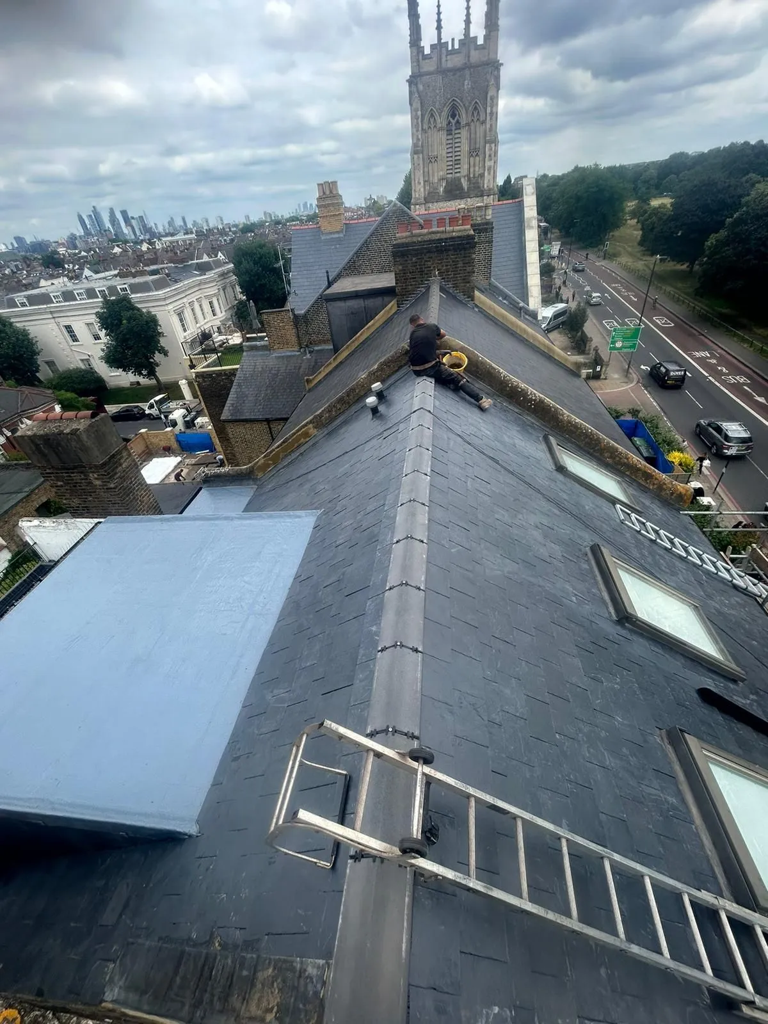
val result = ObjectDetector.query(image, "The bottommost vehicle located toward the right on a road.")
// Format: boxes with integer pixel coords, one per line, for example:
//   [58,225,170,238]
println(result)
[697,413,759,453]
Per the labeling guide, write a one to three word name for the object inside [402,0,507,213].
building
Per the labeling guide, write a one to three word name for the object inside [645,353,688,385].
van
